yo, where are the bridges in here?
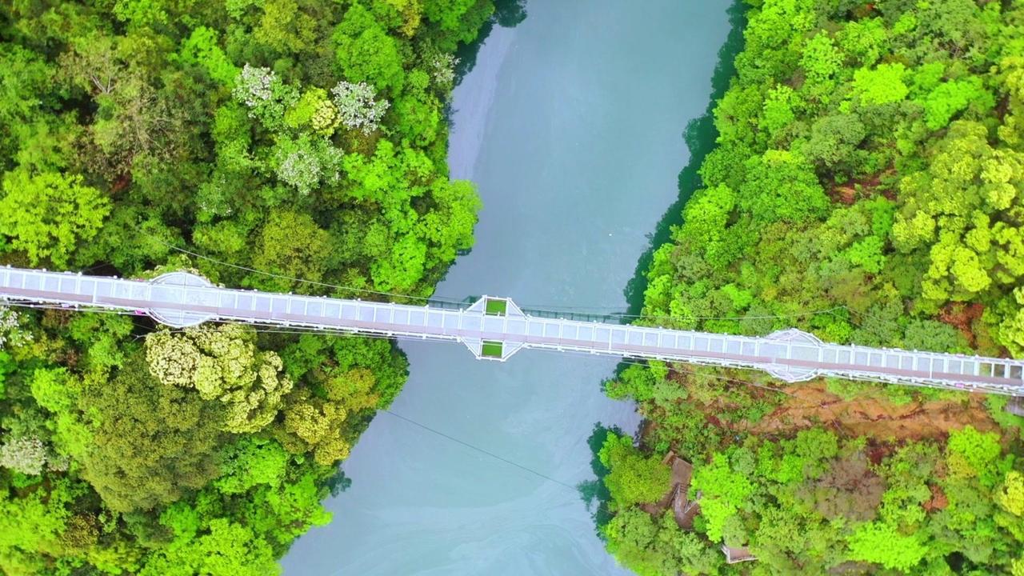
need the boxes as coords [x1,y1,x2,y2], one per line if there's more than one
[0,233,1024,398]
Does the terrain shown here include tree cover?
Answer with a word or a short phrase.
Yes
